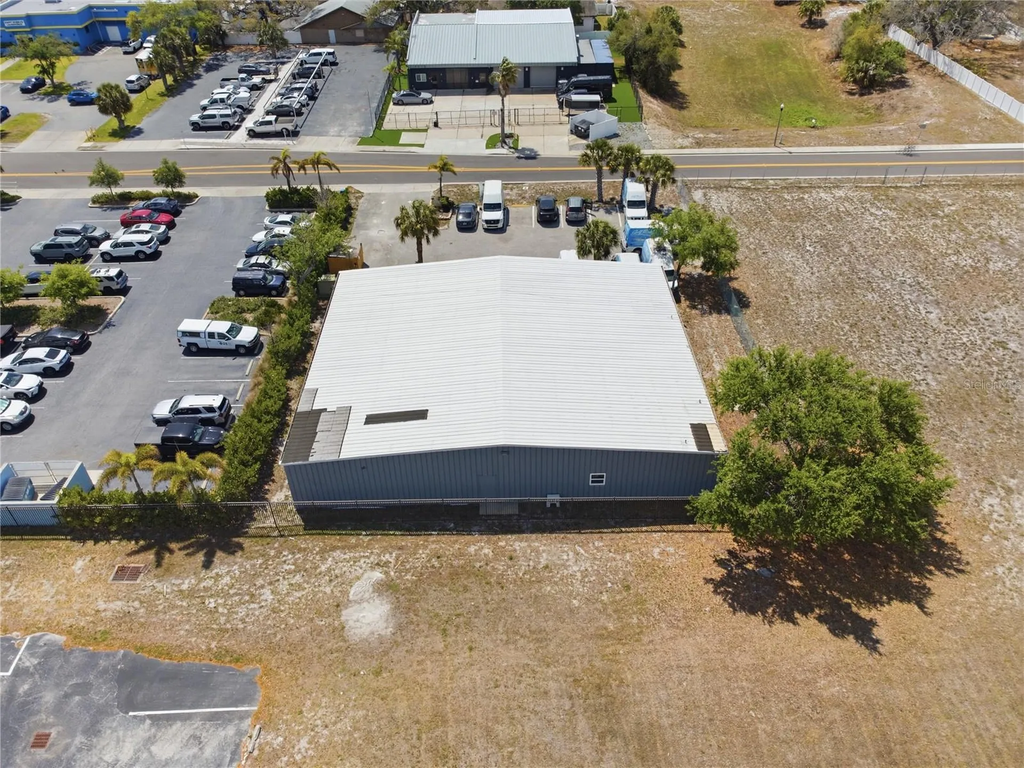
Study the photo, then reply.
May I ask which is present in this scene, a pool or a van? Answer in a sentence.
Of the two, only a van appears.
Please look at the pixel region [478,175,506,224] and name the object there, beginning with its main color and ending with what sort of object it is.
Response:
white van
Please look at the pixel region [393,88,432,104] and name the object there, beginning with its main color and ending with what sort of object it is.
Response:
gray car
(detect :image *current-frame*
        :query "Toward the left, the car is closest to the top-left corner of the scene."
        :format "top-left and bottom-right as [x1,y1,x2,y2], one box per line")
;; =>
[17,76,56,91]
